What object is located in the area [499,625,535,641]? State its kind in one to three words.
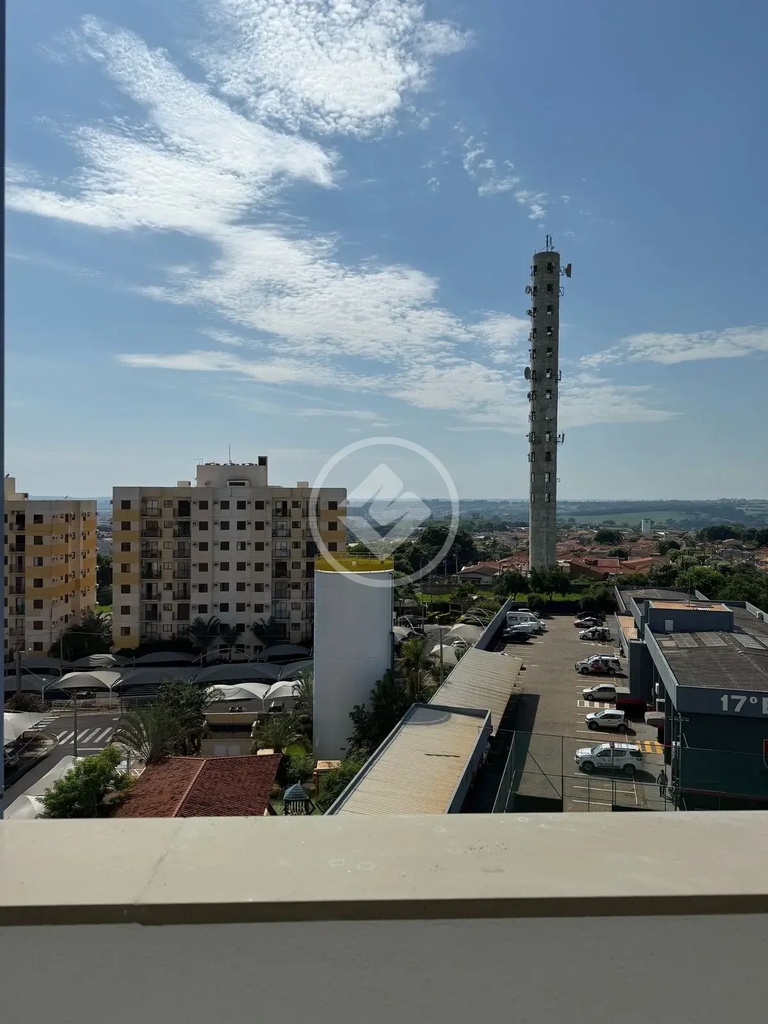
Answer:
car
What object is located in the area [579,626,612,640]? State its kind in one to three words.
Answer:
car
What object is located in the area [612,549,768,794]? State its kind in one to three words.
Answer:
building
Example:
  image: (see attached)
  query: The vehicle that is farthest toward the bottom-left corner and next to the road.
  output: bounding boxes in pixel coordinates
[3,739,48,765]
